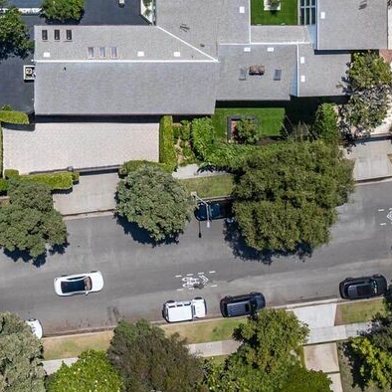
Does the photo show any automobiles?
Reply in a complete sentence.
Yes, the frame does contain an automobile.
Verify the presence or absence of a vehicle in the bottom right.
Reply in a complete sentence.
Yes, in the bottom right there is a vehicle.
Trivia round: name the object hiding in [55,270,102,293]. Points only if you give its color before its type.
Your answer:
white car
